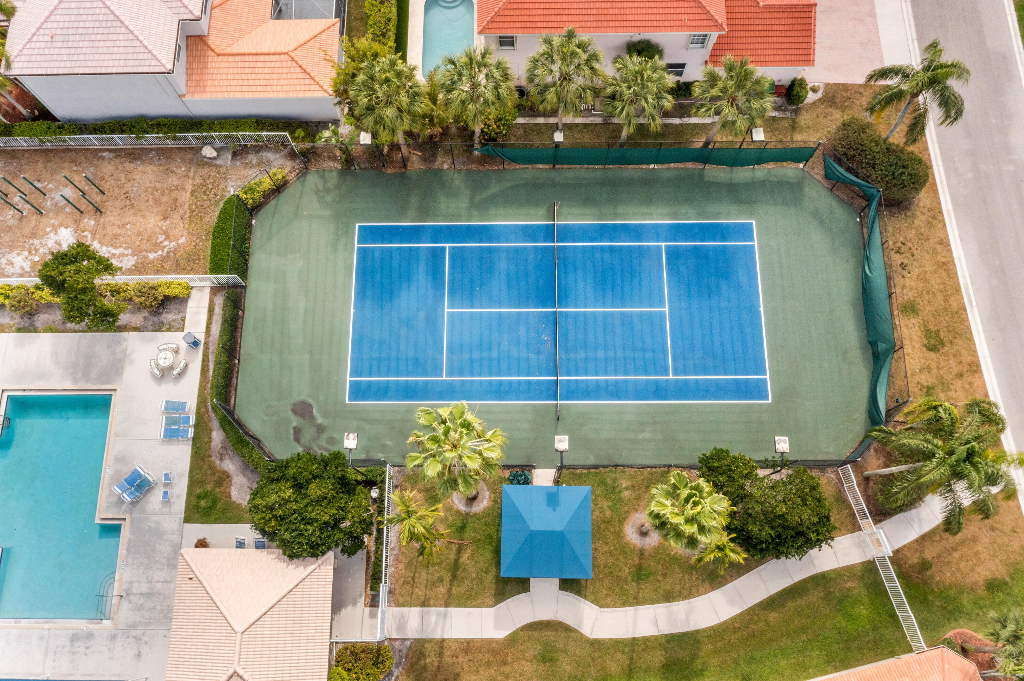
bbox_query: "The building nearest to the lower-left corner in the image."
[165,551,335,681]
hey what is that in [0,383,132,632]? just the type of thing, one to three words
swimming pool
